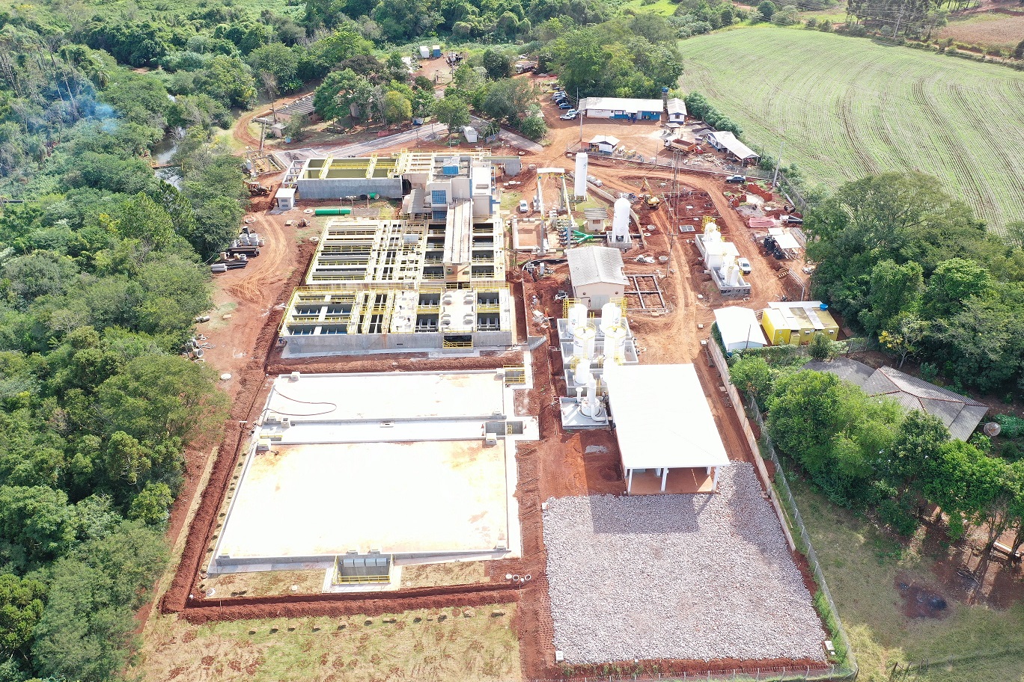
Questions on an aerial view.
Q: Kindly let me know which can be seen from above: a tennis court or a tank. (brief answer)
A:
tank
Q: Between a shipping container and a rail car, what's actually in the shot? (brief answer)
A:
shipping container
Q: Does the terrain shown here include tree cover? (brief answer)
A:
Yes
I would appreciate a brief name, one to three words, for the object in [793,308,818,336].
shipping container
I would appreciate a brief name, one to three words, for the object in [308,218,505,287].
storage tank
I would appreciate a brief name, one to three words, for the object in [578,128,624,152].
shed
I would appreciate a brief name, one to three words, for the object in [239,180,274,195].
work vehicle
